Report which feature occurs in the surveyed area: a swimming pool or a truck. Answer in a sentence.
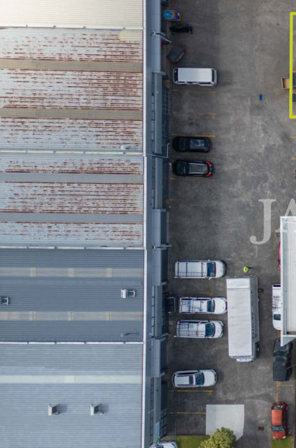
This aerial view contains a truck.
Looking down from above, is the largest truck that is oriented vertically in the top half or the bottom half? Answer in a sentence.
The largest truck that is oriented vertically sits in the bottom half of the picture.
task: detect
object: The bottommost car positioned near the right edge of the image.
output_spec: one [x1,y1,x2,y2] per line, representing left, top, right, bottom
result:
[269,401,289,438]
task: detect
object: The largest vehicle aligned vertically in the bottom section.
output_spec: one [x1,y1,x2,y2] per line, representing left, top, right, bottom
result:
[224,278,260,367]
